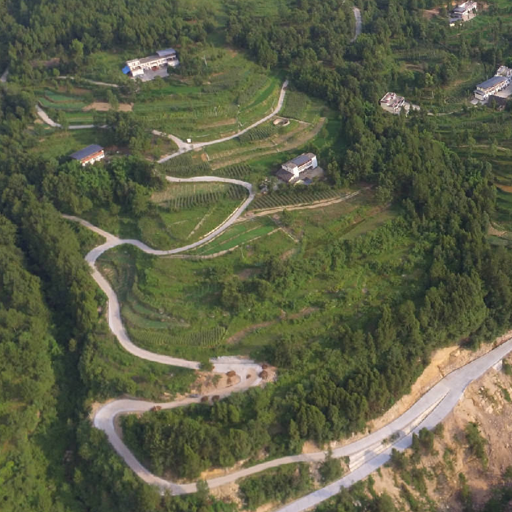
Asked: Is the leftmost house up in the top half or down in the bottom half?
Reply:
top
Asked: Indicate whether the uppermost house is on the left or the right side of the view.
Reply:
right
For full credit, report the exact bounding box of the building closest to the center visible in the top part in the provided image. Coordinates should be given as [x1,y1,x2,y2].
[268,150,315,187]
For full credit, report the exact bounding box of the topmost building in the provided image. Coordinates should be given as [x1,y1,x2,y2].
[446,2,475,24]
